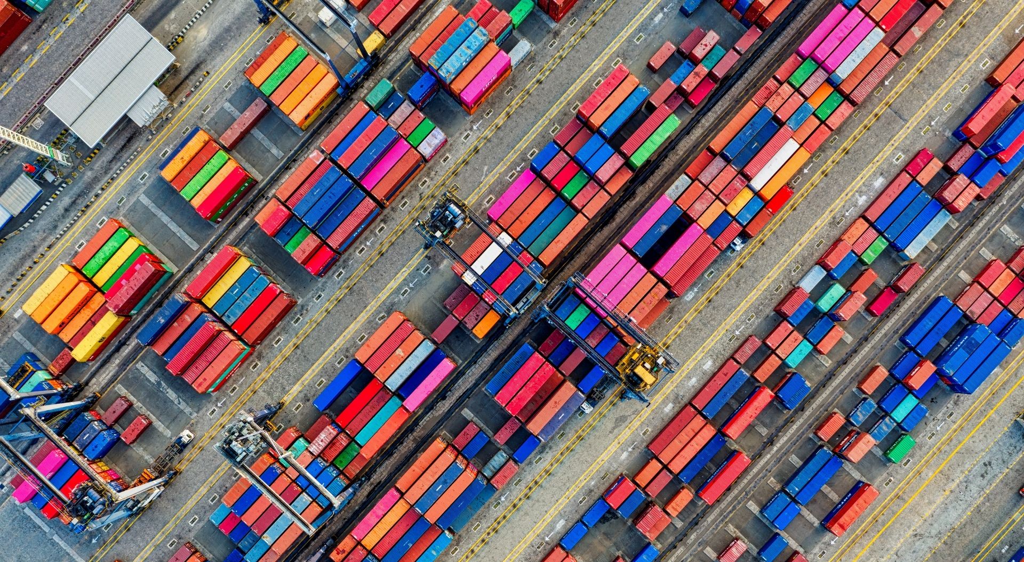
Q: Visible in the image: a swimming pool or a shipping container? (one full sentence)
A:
Visible in the photo is a shipping container.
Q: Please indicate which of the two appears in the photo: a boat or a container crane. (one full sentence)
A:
The image shows a container crane.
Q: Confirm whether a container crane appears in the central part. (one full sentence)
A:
Yes, I can see a container crane in the central part.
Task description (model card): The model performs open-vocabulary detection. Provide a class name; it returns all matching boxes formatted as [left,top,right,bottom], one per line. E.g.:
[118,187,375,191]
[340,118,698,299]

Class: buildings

[44,13,187,153]
[41,168,62,185]
[0,172,50,219]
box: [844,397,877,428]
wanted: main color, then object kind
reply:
blue shipping container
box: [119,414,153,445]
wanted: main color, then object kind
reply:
red shipping container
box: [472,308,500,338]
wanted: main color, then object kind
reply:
orange shipping container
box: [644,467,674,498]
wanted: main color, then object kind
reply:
red shipping container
